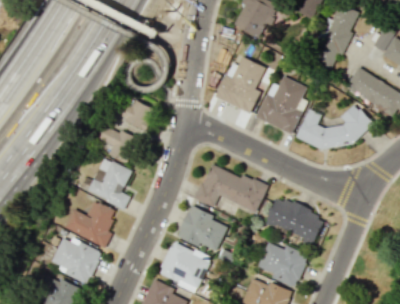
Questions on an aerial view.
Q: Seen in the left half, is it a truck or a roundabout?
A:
truck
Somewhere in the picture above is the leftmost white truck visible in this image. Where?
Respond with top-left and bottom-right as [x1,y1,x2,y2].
[28,108,61,146]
